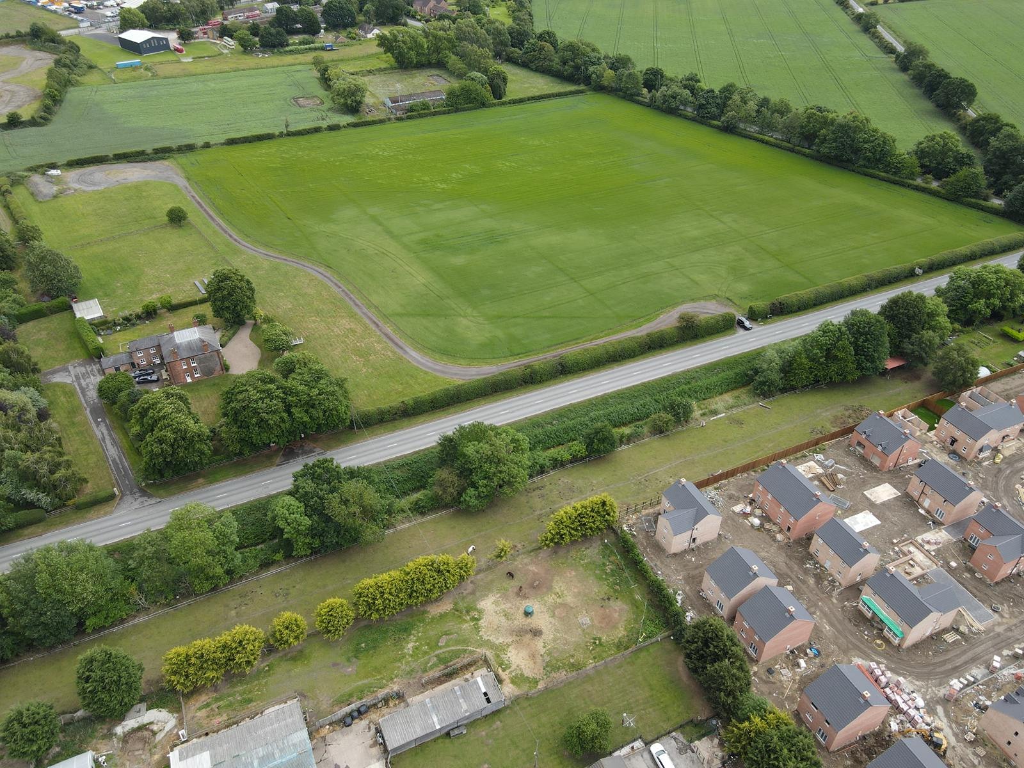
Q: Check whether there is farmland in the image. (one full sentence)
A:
Yes, there's farmland in this view.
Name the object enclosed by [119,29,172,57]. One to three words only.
building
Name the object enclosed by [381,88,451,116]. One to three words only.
shed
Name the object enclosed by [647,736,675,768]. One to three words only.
car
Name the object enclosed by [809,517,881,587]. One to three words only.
house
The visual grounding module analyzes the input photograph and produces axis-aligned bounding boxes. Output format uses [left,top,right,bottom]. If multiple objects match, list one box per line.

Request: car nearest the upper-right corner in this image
[737,314,752,329]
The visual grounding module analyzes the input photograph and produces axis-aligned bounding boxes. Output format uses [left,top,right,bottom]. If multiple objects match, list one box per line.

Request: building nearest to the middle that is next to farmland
[656,476,723,553]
